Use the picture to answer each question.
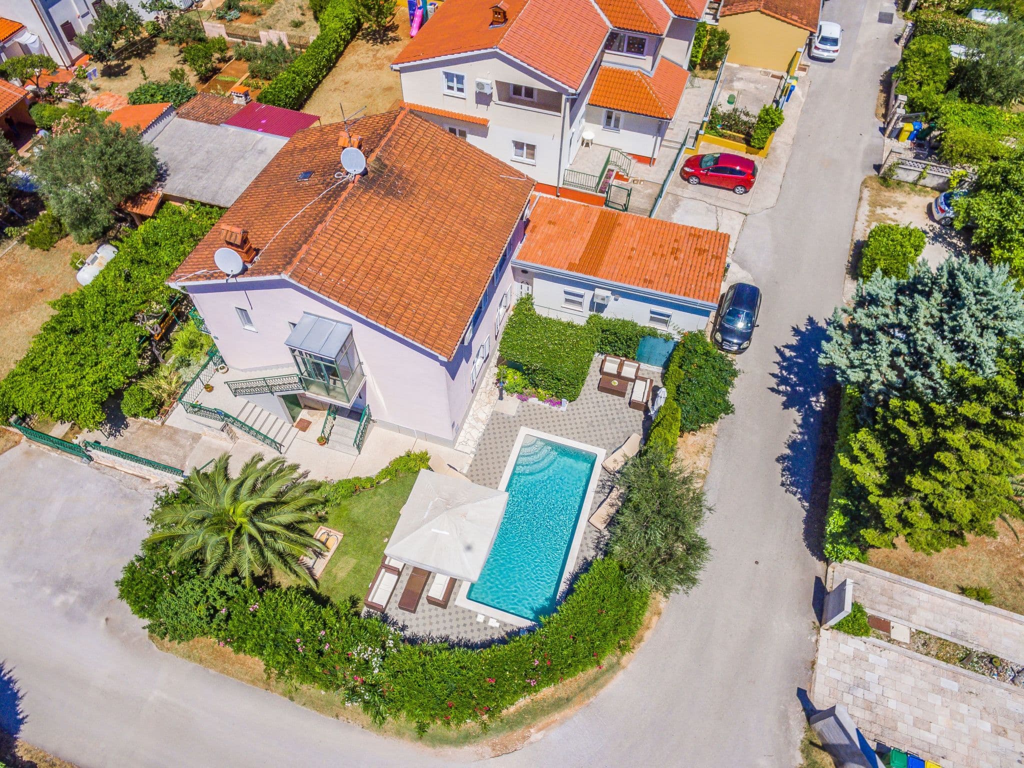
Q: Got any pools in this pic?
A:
Yes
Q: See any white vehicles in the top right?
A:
Yes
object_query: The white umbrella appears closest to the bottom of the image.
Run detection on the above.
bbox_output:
[384,469,508,583]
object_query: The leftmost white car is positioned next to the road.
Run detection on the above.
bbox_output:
[806,22,847,64]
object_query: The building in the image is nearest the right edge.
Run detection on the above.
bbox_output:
[720,0,829,71]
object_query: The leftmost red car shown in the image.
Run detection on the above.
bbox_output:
[683,152,761,196]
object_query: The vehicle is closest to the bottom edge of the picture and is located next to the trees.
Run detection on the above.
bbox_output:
[714,281,765,355]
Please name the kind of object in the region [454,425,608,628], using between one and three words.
swimming pool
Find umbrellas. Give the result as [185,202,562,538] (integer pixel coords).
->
[647,391,666,428]
[384,469,508,583]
